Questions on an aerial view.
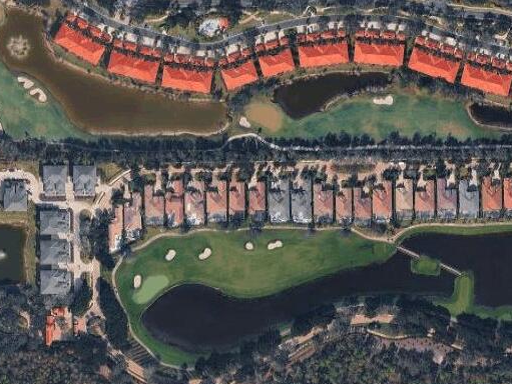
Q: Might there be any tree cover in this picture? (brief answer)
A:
Yes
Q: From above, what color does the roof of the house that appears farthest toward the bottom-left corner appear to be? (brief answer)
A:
red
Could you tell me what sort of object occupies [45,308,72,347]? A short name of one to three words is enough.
house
